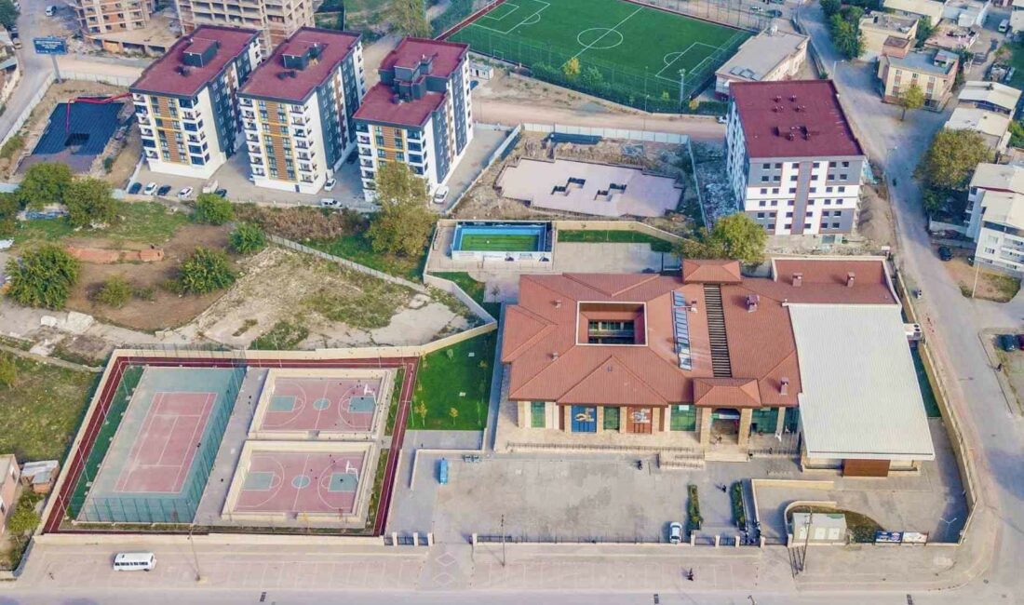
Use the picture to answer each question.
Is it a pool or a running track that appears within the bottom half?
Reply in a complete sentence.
Visible within the bottom half is a running track.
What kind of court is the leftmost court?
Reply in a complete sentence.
It turns out the leftmost court is a tennis court.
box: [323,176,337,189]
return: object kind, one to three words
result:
vehicle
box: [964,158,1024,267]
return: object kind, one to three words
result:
house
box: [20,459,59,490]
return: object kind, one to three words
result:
shed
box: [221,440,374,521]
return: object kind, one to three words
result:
basketball court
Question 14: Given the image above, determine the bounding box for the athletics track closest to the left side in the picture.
[41,355,420,539]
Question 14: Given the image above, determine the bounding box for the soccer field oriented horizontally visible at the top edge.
[454,0,757,105]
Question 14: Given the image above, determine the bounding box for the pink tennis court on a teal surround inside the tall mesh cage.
[79,367,244,521]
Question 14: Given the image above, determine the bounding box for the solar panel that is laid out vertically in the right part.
[675,289,692,370]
